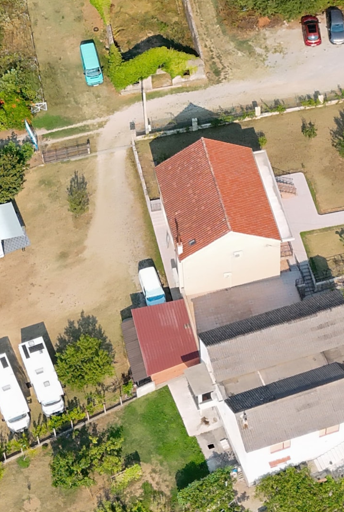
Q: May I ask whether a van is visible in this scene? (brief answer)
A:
Yes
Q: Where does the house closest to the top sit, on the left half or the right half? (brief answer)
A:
right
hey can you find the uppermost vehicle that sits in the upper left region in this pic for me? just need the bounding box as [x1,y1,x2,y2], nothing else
[79,41,105,86]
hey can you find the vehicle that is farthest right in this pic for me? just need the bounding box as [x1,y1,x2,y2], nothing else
[325,9,344,46]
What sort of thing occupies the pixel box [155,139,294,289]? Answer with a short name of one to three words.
house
